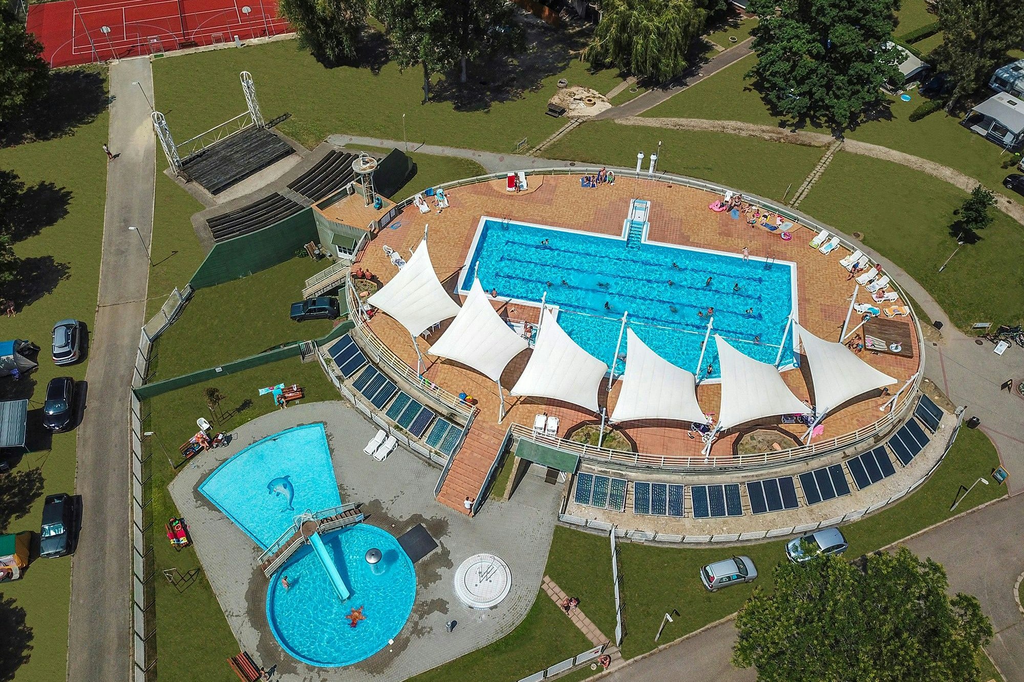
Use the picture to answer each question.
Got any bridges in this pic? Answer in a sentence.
Yes, a bridge appears in the view.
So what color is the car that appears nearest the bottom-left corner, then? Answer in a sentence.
The car that appears nearest the bottom-left corner is black.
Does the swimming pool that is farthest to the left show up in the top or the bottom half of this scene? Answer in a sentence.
The swimming pool that is farthest to the left is in the bottom half of the image.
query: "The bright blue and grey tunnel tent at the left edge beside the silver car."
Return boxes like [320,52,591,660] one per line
[0,338,39,378]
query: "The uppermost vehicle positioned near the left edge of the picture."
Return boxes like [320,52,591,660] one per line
[51,323,85,371]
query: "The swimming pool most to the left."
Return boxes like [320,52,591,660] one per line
[199,423,341,560]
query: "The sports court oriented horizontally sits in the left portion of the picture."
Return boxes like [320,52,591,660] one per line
[24,0,328,67]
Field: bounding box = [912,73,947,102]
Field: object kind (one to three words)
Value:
car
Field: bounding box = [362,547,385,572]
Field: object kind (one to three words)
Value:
fountain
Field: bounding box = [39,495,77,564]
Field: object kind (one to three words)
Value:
car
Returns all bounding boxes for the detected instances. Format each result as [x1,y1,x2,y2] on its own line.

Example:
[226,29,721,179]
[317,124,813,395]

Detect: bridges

[259,498,366,580]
